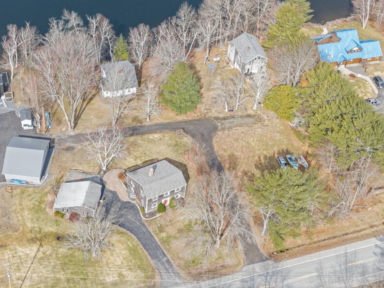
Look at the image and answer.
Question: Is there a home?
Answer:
Yes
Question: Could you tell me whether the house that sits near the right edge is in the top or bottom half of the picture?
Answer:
top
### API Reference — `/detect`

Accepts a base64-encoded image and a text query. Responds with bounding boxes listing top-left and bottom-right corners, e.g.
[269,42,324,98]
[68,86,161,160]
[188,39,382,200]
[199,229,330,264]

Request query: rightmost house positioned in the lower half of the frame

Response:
[125,159,187,212]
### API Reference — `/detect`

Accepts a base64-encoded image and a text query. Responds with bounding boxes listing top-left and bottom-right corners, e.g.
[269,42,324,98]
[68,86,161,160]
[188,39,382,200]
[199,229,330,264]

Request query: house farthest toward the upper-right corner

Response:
[306,26,384,67]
